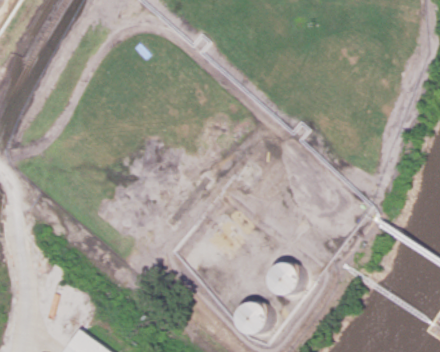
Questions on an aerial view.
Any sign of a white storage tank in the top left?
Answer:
No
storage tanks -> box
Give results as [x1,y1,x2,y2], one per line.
[234,297,278,336]
[266,258,310,298]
